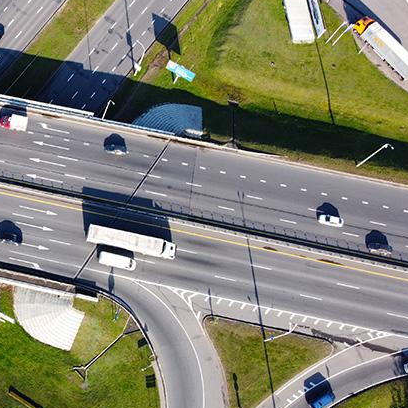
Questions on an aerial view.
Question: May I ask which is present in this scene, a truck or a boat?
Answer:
truck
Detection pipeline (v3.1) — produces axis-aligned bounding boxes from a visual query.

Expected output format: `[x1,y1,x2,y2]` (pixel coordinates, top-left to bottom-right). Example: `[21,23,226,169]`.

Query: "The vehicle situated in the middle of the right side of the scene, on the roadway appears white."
[317,214,343,227]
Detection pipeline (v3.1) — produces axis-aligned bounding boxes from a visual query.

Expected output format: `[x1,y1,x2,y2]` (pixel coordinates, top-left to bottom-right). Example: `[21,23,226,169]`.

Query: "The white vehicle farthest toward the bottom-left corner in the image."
[98,251,135,270]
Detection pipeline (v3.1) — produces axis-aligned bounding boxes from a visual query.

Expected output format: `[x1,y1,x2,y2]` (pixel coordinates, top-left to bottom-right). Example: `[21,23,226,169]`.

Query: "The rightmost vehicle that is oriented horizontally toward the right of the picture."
[367,238,392,252]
